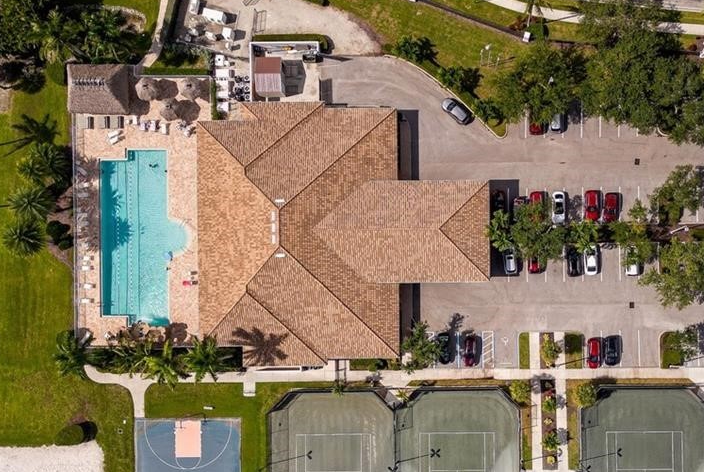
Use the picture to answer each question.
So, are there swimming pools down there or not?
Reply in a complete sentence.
Yes, this view includes a swimming pool.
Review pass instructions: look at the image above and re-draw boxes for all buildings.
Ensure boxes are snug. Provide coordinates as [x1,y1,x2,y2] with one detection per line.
[194,101,489,370]
[63,61,133,118]
[253,54,282,96]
